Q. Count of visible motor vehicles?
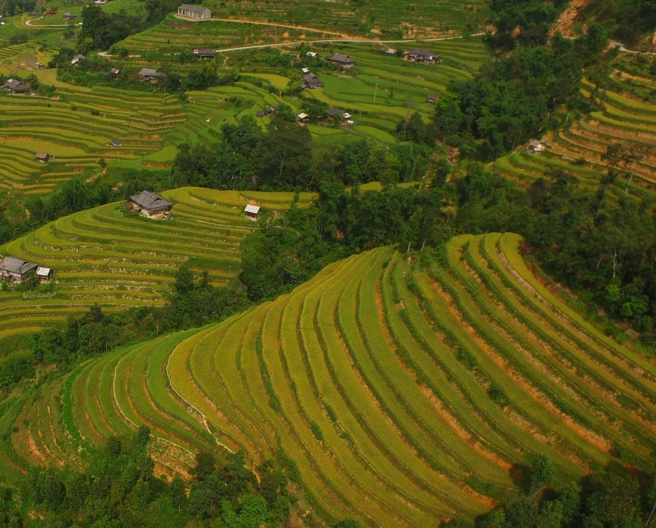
0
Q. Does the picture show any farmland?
Yes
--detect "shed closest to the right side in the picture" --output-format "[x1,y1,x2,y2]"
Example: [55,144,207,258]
[522,134,549,153]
